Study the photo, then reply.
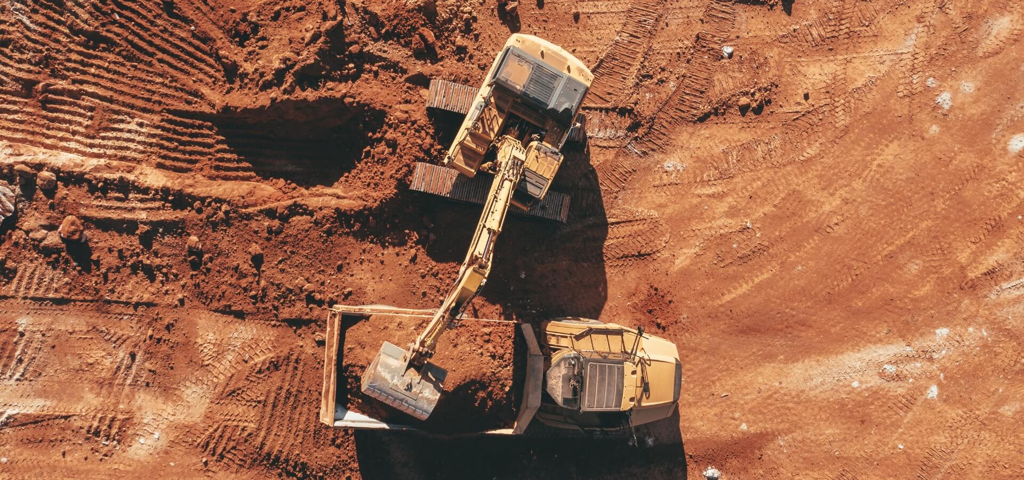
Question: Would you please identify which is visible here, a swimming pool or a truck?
truck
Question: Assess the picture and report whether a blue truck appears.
No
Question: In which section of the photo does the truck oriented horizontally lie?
bottom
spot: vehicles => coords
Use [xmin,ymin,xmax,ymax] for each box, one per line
[365,36,590,420]
[322,301,680,447]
